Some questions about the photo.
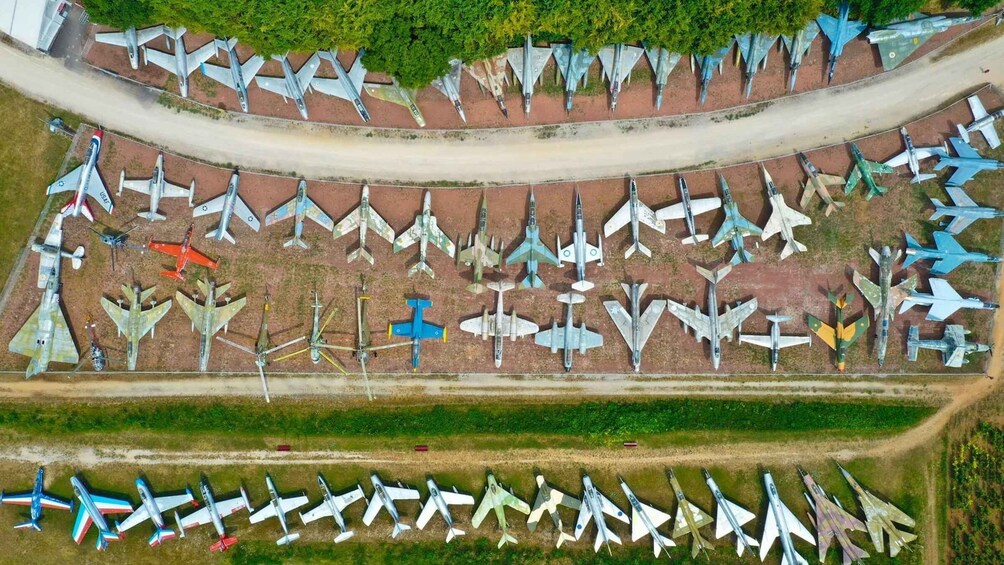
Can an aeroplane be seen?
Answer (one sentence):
Yes, there's an aeroplane down there.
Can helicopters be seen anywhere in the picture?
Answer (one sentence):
Yes, the image includes a helicopter.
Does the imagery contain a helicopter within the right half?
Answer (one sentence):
No, I can find no helicopter within the right half.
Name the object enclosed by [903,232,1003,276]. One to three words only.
airplane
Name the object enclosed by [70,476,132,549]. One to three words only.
airplane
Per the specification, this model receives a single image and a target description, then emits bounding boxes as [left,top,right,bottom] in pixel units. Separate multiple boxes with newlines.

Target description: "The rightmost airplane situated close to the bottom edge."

[837,464,919,556]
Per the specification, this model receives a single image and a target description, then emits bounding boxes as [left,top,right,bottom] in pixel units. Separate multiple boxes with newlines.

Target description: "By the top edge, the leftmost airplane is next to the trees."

[97,15,165,70]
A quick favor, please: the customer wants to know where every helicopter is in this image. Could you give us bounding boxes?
[71,319,126,374]
[274,289,345,374]
[89,226,147,270]
[318,282,413,399]
[217,292,305,401]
